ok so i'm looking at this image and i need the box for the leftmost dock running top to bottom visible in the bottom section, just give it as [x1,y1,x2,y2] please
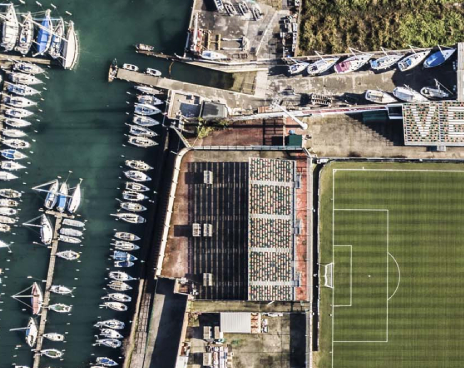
[33,214,63,368]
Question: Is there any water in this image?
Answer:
Yes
